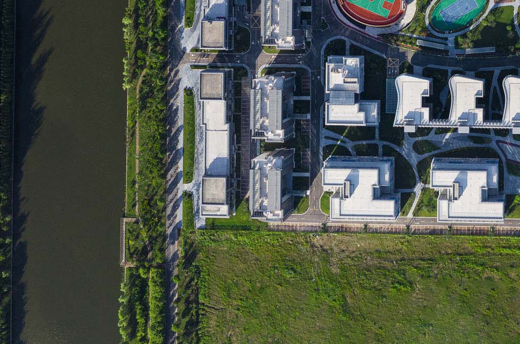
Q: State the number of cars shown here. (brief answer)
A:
none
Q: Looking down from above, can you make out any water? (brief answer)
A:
Yes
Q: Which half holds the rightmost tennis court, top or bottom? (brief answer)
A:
top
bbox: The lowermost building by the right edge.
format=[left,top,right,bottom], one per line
[431,159,507,225]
